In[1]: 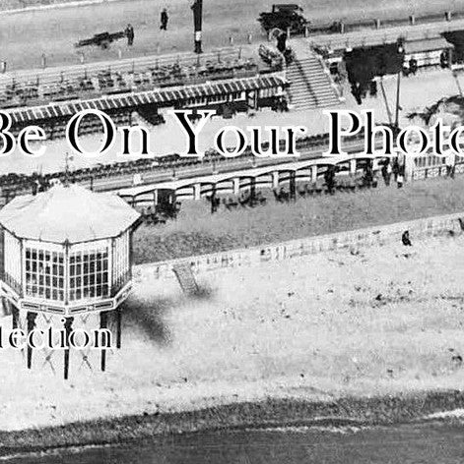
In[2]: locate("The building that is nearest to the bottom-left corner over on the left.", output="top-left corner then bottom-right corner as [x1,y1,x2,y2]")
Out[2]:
[0,185,137,374]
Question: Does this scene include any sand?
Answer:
Yes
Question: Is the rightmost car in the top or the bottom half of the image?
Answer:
top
